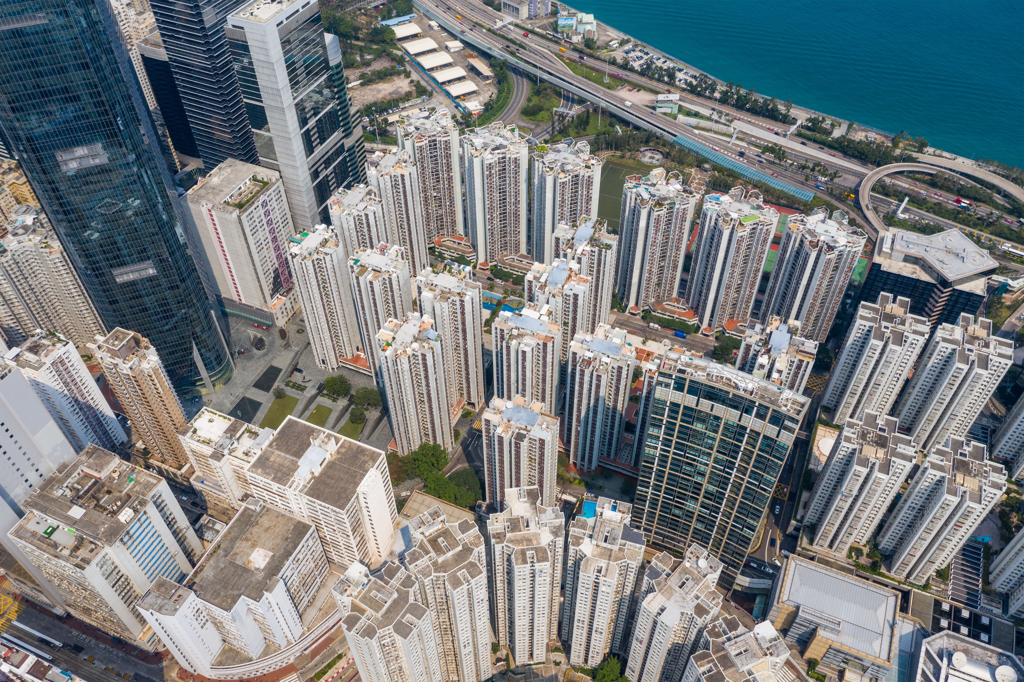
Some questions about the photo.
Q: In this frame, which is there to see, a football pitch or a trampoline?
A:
football pitch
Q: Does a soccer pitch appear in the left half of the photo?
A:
No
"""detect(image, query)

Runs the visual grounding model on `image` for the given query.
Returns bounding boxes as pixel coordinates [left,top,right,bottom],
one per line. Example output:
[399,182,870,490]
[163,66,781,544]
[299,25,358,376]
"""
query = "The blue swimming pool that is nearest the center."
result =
[575,497,594,523]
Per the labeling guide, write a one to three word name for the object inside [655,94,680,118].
building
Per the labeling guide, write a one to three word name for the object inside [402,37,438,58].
shed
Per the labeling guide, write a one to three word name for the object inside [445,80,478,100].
shed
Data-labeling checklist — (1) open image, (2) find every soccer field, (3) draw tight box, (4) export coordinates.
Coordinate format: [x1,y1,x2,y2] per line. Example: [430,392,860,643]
[598,157,690,251]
